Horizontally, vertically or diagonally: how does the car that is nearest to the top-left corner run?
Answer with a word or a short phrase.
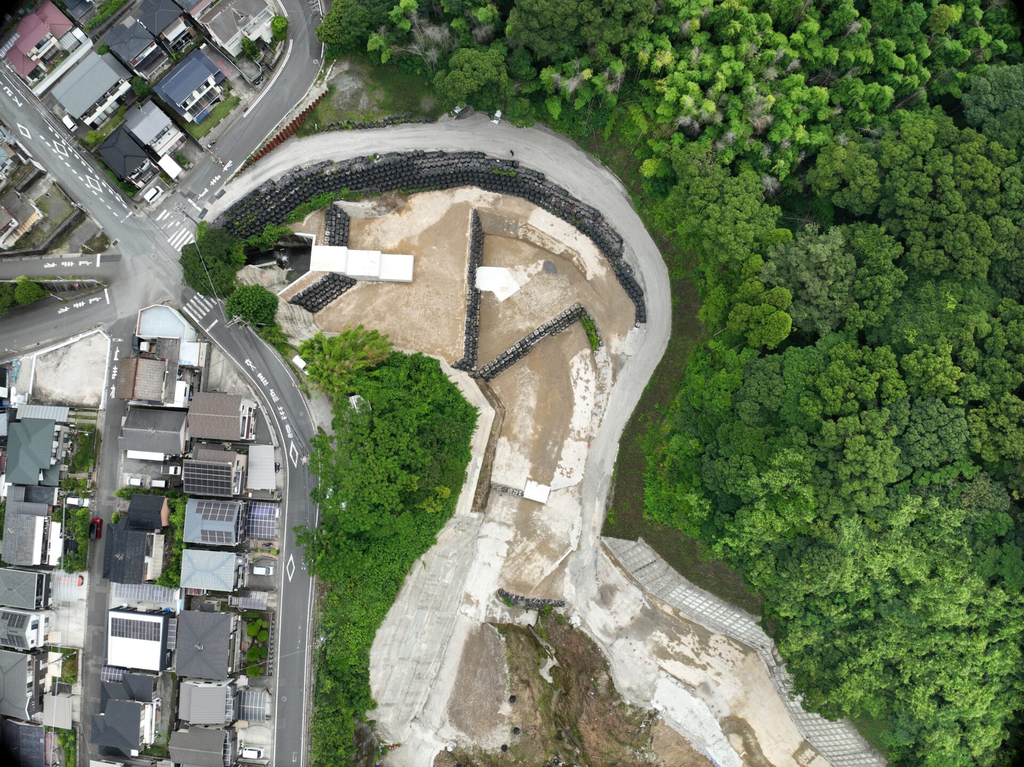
diagonally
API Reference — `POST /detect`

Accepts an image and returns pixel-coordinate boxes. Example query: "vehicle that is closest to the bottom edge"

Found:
[241,745,266,759]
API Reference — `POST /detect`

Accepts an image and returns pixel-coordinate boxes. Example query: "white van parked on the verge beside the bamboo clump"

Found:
[288,354,309,374]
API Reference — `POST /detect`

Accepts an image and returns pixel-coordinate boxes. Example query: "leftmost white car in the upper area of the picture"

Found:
[57,111,81,134]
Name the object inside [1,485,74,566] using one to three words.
house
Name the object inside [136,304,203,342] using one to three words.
building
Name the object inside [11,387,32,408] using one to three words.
shed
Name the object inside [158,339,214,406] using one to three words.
house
